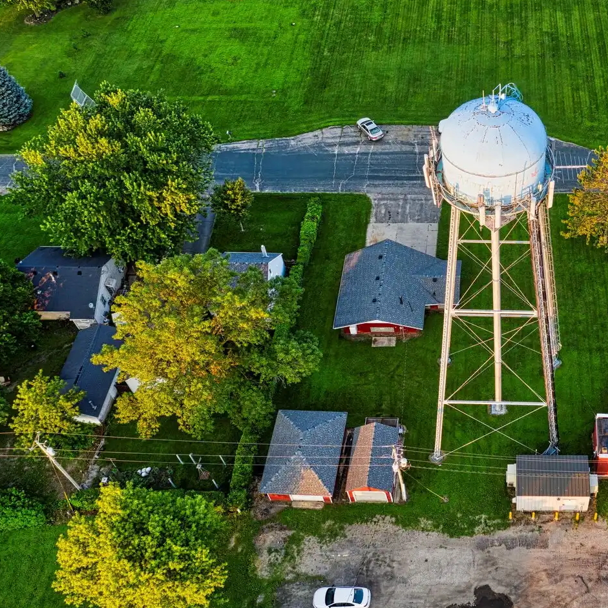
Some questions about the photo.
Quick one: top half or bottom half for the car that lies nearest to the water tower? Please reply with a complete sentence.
It is in the top half that the car that lies nearest to the water tower appears.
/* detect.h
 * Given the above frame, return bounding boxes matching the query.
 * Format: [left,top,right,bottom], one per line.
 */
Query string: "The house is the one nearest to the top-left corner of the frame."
[12,254,128,344]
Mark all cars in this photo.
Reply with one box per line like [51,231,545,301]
[357,118,385,142]
[312,585,371,608]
